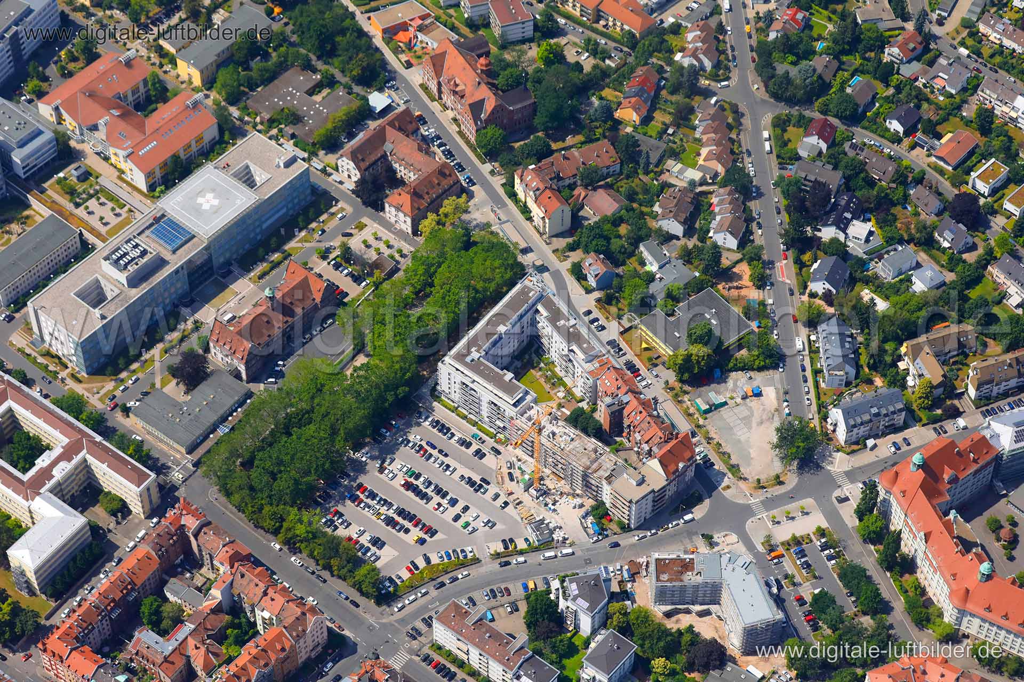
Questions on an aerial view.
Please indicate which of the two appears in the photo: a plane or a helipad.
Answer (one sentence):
The one in the frame is a helipad.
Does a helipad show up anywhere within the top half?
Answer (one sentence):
Yes, a helipad is visible within the top half.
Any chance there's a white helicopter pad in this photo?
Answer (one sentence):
Yes, you can see a white helicopter pad in this photo.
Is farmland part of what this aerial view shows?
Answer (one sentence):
No, there is no farmland in the image.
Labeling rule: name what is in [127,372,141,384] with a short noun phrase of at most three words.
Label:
vehicle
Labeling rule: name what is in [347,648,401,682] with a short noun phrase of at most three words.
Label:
house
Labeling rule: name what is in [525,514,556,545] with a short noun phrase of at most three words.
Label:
shed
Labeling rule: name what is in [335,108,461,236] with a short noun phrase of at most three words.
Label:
building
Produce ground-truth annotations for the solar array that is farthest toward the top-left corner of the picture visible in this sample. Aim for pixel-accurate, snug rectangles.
[148,217,192,252]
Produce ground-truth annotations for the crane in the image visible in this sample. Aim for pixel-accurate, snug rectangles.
[512,354,604,498]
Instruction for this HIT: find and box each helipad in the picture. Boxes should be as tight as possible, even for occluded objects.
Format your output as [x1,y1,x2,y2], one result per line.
[152,161,265,243]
